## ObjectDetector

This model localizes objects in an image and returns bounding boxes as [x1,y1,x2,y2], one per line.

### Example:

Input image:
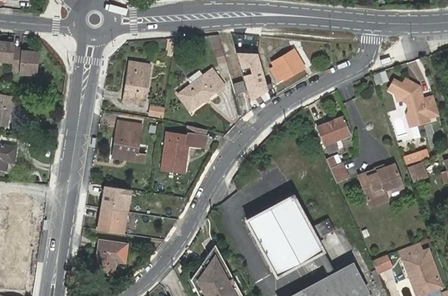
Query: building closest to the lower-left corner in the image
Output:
[96,240,130,273]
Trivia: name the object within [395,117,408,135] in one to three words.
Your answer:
swimming pool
